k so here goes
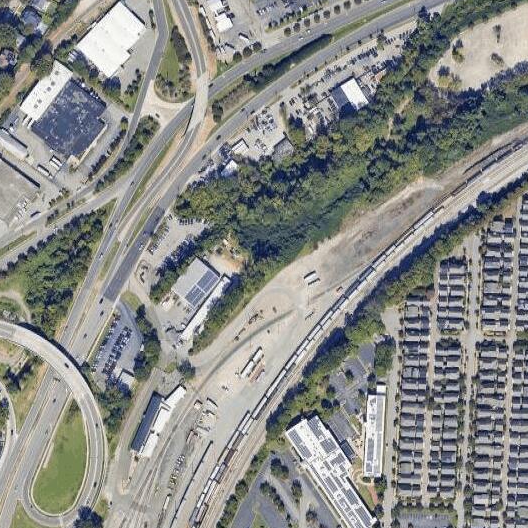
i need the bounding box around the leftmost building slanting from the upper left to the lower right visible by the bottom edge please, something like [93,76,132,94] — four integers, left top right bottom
[285,415,377,528]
